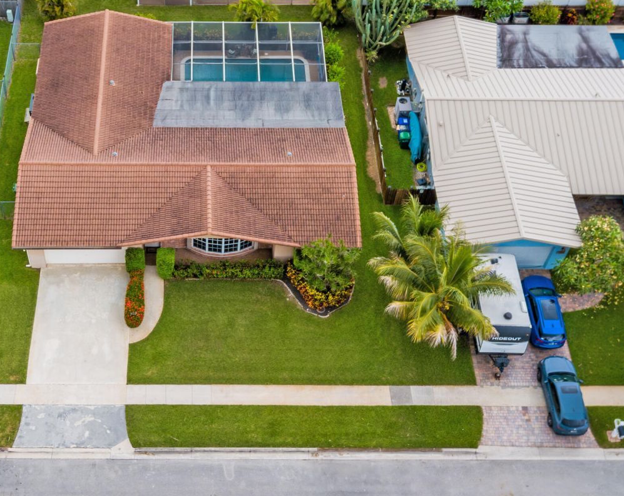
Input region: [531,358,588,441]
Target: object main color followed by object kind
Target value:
blue car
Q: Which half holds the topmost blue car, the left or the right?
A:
right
